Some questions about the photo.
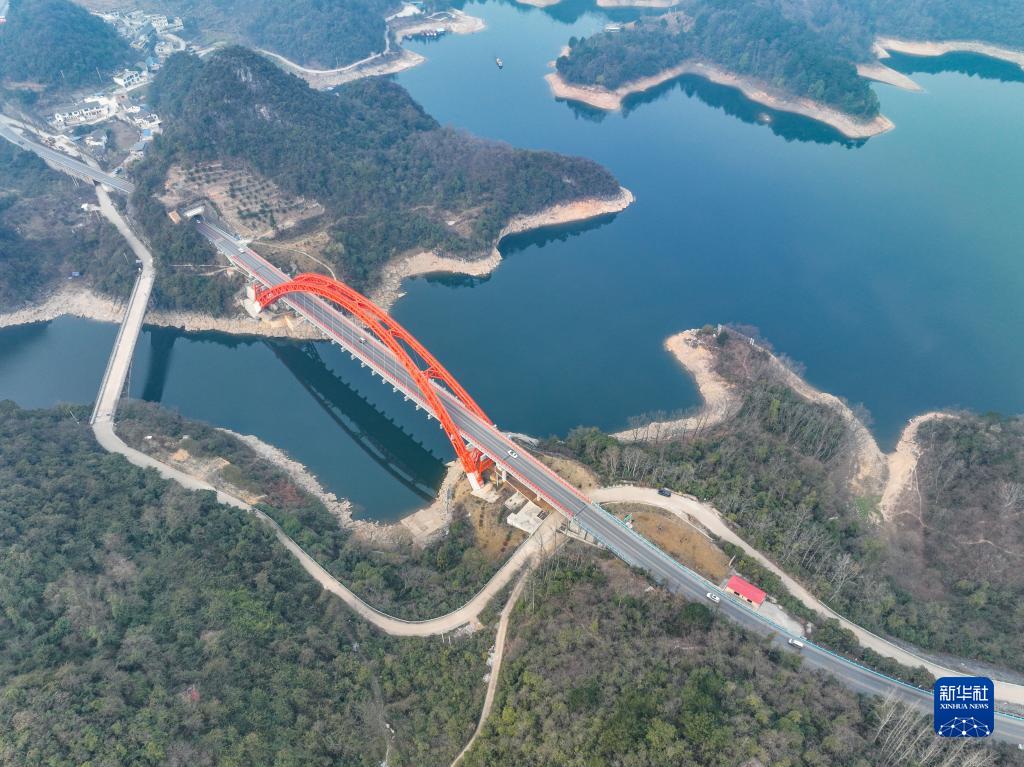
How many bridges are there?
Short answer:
2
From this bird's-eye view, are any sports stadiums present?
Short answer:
No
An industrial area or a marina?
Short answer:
marina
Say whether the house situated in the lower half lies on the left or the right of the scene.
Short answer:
right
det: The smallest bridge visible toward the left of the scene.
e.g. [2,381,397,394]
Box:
[90,285,151,422]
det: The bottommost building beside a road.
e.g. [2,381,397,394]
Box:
[725,572,769,609]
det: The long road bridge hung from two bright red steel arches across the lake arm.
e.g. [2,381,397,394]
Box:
[204,226,676,583]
